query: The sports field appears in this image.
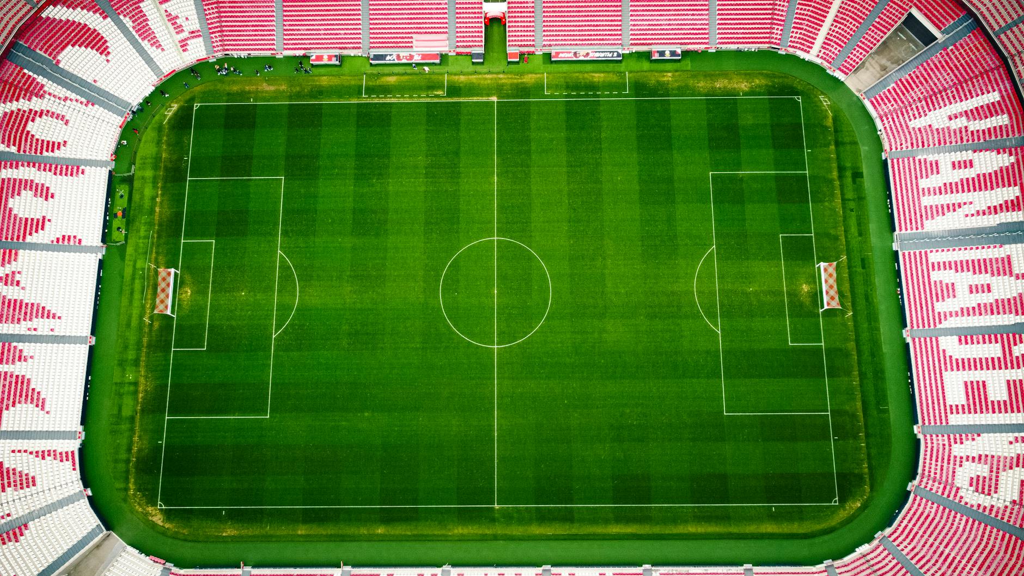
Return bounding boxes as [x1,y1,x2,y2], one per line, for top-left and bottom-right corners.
[132,70,865,535]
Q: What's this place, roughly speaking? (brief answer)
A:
sports ground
